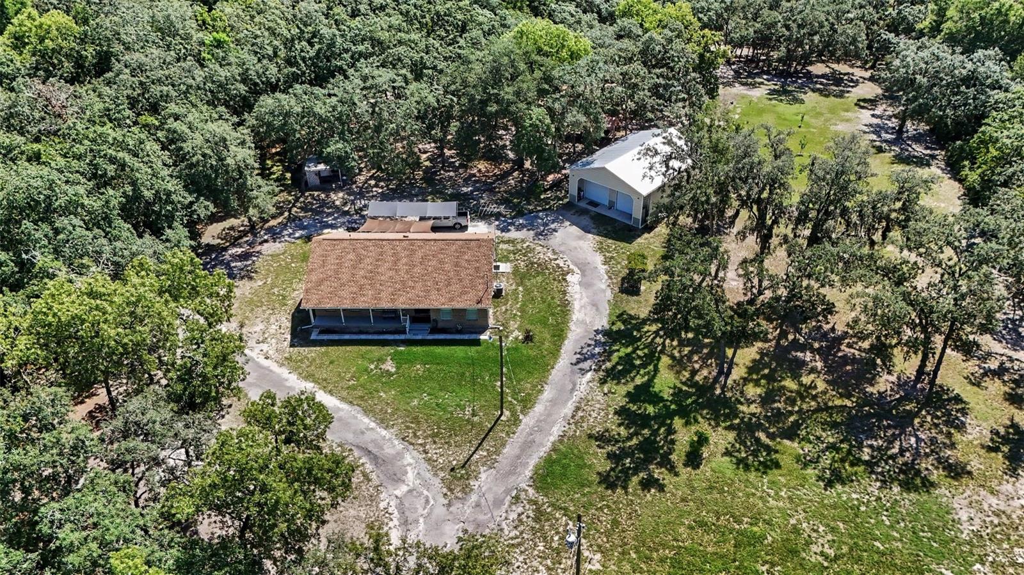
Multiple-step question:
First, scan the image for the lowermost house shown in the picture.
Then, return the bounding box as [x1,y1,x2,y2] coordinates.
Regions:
[300,232,502,335]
